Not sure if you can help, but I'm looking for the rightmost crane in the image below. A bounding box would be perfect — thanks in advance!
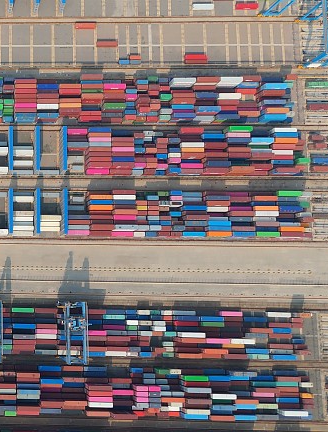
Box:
[292,0,328,68]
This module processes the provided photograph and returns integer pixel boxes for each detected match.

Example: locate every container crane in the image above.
[257,0,299,16]
[53,301,90,366]
[0,301,5,364]
[292,0,328,68]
